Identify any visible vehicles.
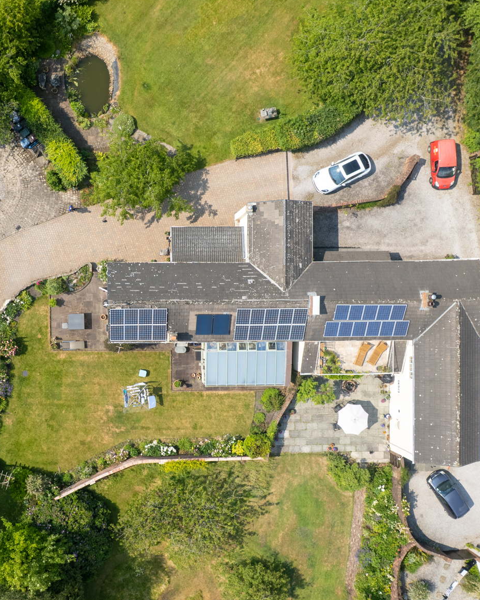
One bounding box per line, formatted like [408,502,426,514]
[423,465,473,521]
[311,151,373,197]
[426,136,460,194]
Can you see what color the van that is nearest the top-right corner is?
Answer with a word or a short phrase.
red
